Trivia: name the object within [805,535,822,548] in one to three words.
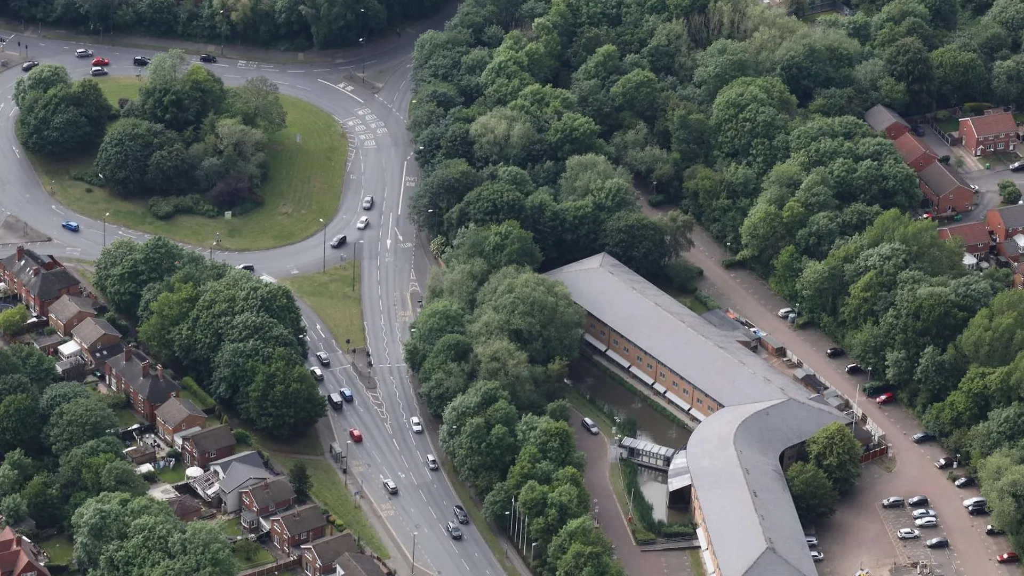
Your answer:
vehicle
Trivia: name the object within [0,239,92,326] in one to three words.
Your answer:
house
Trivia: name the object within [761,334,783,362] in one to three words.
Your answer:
shed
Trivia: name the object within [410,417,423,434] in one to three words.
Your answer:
vehicle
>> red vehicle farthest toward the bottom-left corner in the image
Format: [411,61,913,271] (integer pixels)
[349,429,363,443]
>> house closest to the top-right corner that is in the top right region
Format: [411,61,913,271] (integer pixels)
[960,107,1018,156]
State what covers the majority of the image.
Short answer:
trees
